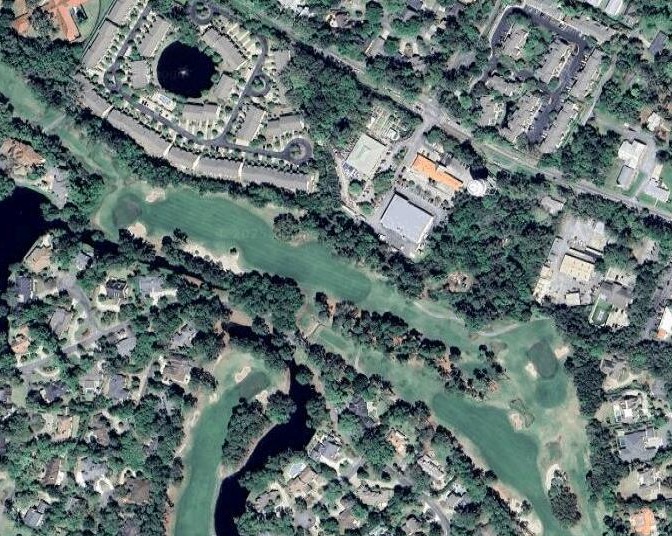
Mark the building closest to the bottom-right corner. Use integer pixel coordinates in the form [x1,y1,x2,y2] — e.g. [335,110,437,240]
[629,508,659,534]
